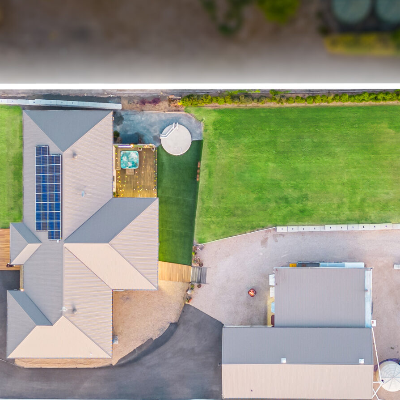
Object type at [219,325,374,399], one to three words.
shed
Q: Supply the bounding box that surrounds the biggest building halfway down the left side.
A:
[7,109,159,359]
